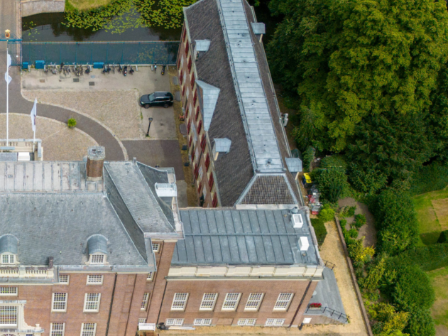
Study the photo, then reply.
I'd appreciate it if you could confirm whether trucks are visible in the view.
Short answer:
No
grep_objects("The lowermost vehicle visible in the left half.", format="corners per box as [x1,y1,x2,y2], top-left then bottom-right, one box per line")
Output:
[138,87,176,107]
